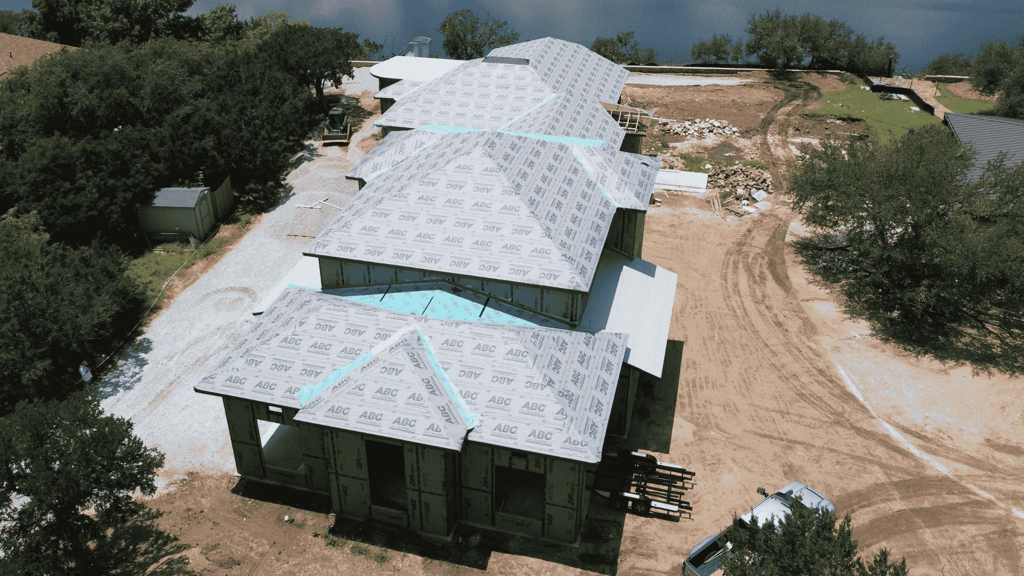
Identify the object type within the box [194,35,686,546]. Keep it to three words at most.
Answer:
house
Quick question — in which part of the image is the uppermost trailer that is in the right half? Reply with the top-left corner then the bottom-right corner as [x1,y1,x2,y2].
[588,454,705,517]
